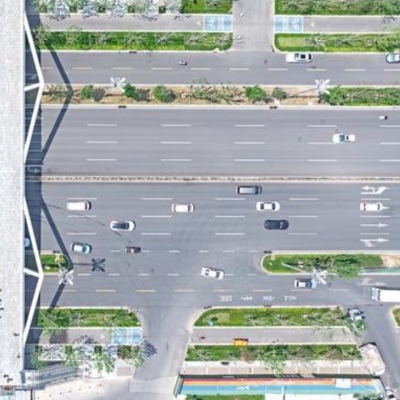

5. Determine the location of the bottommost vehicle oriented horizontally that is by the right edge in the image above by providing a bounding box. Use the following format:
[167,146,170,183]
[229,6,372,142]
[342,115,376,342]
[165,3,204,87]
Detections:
[362,287,400,303]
